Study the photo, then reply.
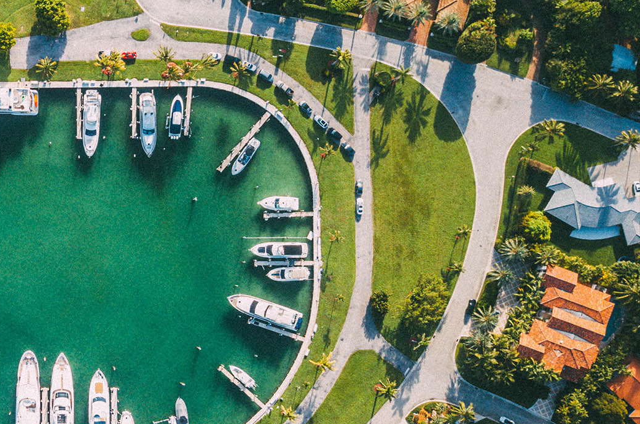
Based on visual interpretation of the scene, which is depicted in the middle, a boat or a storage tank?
boat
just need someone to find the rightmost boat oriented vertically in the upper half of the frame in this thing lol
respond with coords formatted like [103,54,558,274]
[167,96,185,141]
